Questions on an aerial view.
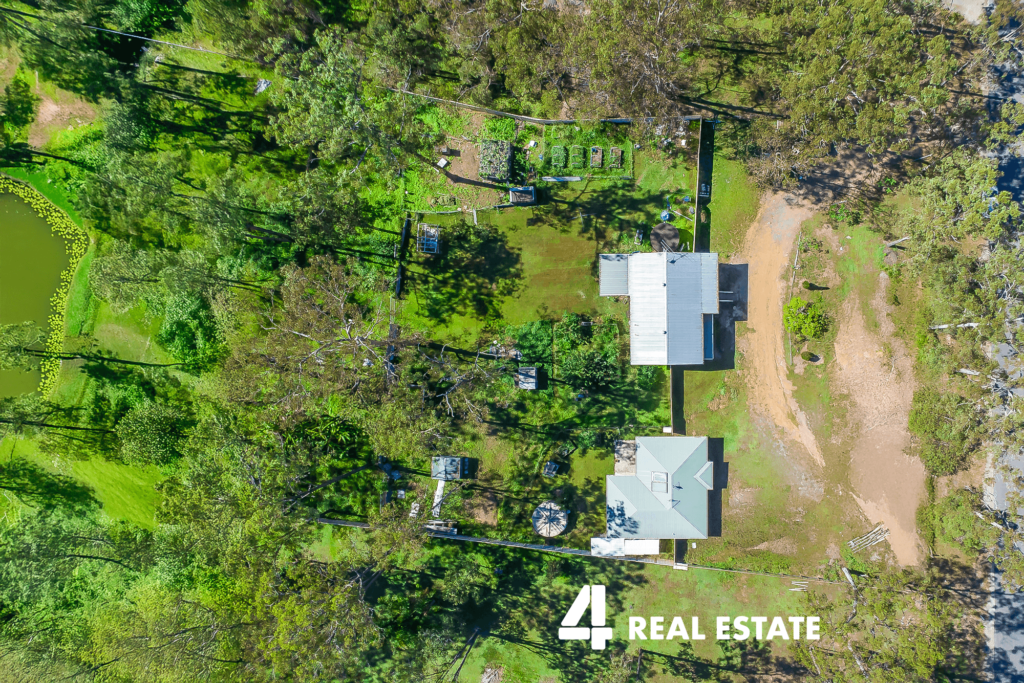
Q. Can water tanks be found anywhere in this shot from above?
Yes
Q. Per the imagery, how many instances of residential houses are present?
2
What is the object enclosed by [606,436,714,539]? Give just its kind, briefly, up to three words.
house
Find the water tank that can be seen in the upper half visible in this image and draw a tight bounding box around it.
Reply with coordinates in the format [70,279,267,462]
[647,221,680,252]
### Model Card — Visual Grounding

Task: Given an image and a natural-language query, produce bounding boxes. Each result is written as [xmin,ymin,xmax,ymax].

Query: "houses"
[597,247,728,365]
[606,436,714,539]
